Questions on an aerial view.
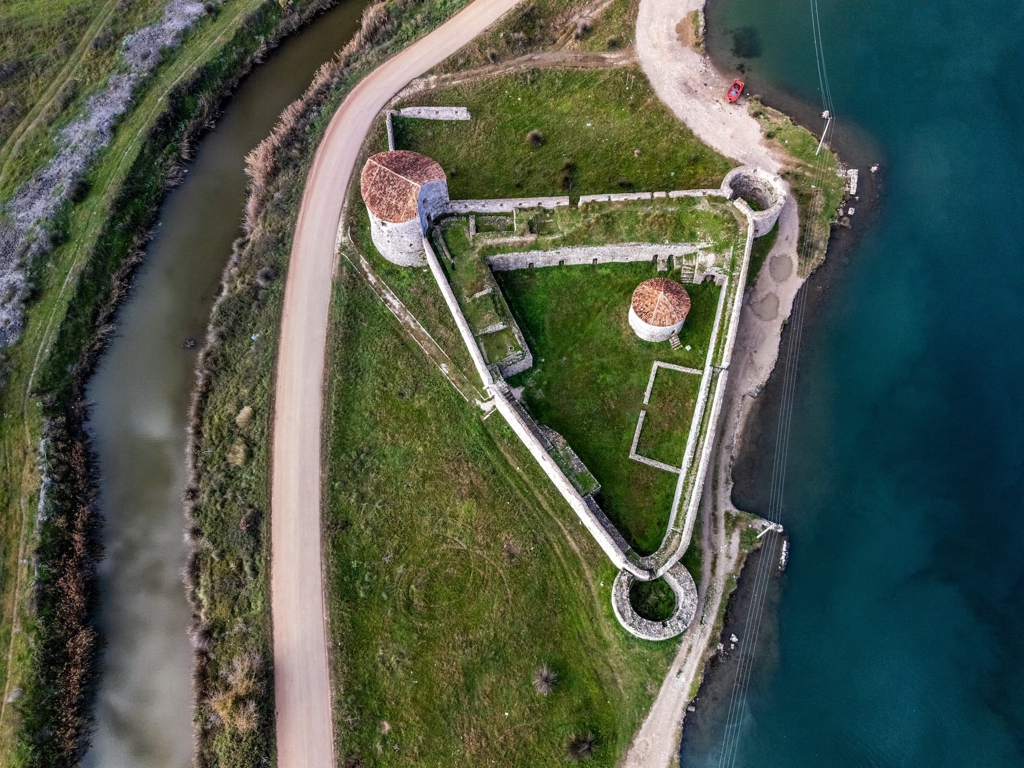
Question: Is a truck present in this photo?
No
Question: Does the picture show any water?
Yes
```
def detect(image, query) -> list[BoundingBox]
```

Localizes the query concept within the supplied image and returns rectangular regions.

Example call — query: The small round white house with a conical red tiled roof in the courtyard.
[628,276,692,342]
